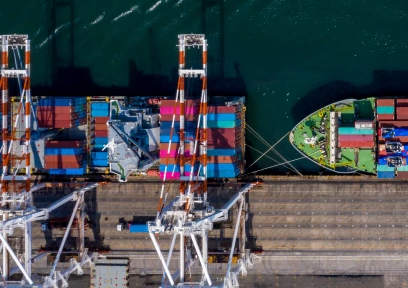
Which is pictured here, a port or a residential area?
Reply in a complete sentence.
This image shows a port.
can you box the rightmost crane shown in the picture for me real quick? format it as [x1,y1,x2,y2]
[147,31,263,288]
